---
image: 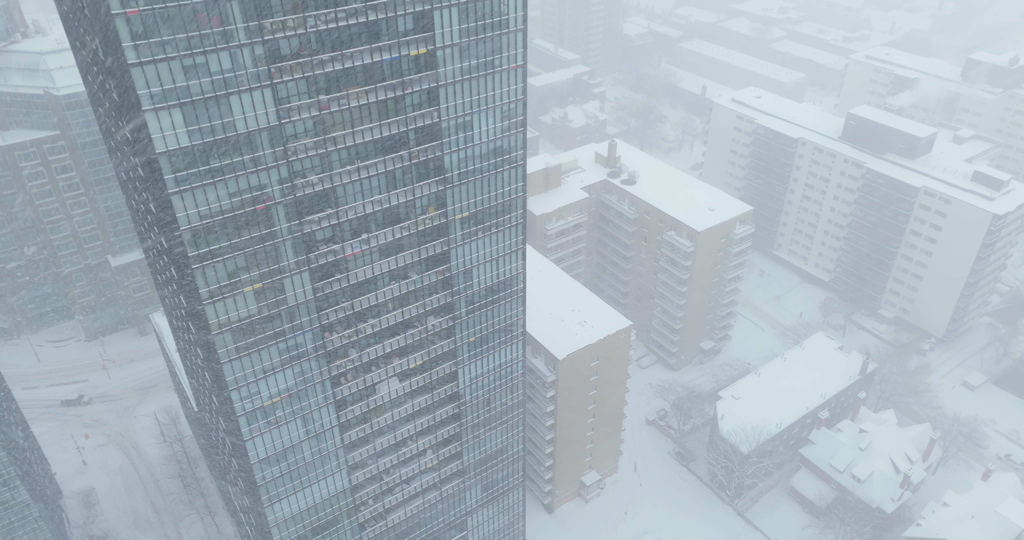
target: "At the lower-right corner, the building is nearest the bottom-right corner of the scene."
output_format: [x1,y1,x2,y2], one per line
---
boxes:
[908,455,1024,540]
